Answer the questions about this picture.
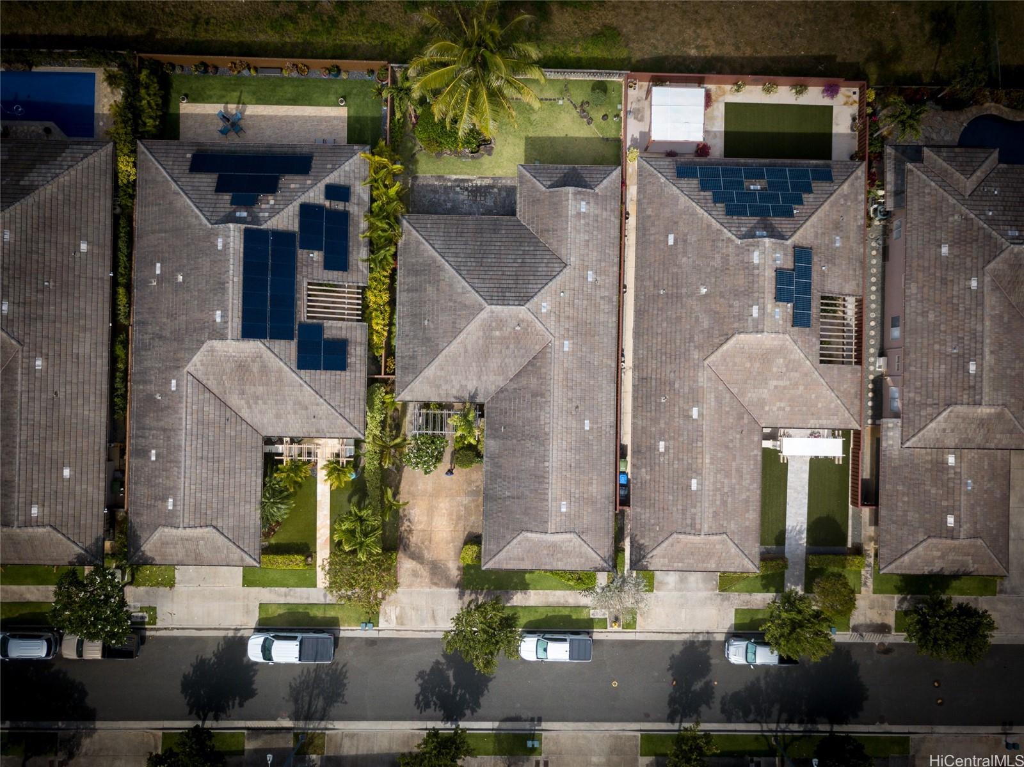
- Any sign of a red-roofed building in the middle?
No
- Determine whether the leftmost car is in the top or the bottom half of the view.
bottom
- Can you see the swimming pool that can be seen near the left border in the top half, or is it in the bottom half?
top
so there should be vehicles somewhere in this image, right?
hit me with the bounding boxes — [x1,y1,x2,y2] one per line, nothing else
[518,628,592,666]
[64,629,146,666]
[723,632,800,669]
[0,627,62,664]
[249,627,337,667]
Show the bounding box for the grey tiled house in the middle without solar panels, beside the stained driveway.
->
[395,163,623,572]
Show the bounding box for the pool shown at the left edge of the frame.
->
[0,67,99,141]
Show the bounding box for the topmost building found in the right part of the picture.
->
[644,86,706,153]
